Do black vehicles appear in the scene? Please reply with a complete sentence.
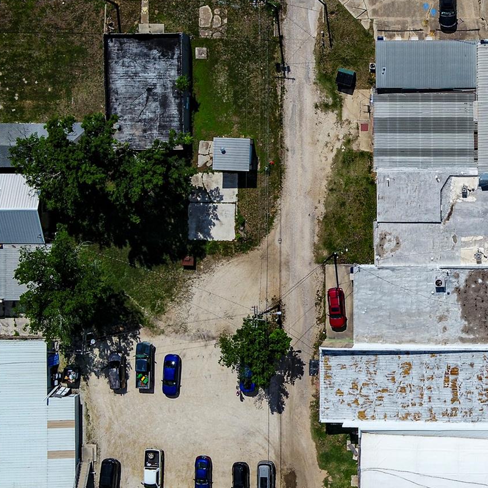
Yes, a black vehicle appears in the view.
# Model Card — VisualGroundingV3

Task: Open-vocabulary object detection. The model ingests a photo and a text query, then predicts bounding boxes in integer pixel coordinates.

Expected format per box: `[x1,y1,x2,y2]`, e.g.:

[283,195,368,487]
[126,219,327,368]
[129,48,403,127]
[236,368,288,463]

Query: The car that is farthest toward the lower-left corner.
[99,457,119,488]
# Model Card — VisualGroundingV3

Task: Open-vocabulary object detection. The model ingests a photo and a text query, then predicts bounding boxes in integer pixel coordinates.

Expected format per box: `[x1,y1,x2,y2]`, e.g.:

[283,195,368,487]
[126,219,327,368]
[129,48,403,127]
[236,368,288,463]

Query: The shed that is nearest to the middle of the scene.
[212,138,255,171]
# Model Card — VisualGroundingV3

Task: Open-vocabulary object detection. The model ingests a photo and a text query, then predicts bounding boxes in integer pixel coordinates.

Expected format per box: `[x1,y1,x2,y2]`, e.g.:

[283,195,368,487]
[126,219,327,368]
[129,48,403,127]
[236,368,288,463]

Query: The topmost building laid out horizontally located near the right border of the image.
[375,40,477,90]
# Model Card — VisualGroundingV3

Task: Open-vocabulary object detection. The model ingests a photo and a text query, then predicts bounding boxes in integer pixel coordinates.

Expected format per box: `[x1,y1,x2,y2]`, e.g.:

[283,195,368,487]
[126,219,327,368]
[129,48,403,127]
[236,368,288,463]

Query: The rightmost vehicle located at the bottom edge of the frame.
[258,458,276,488]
